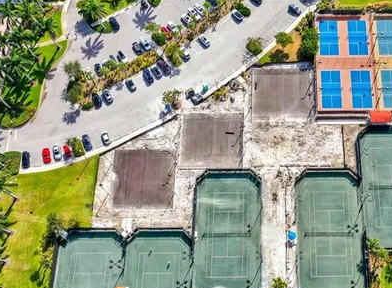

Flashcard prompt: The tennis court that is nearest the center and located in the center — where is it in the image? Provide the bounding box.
[180,111,244,167]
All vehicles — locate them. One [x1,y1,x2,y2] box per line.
[187,5,200,18]
[139,36,151,49]
[81,133,91,149]
[131,40,143,54]
[52,143,62,159]
[193,0,206,13]
[182,85,197,98]
[84,62,94,76]
[124,77,137,91]
[150,63,162,77]
[142,66,153,81]
[199,34,211,47]
[156,56,170,73]
[102,88,113,103]
[100,53,110,63]
[141,0,150,9]
[21,150,30,166]
[288,1,302,13]
[251,0,263,5]
[93,62,101,76]
[108,15,120,29]
[180,11,193,24]
[159,25,172,37]
[189,92,208,105]
[166,19,178,31]
[91,92,101,107]
[101,129,110,145]
[42,148,51,162]
[231,8,244,20]
[62,142,72,157]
